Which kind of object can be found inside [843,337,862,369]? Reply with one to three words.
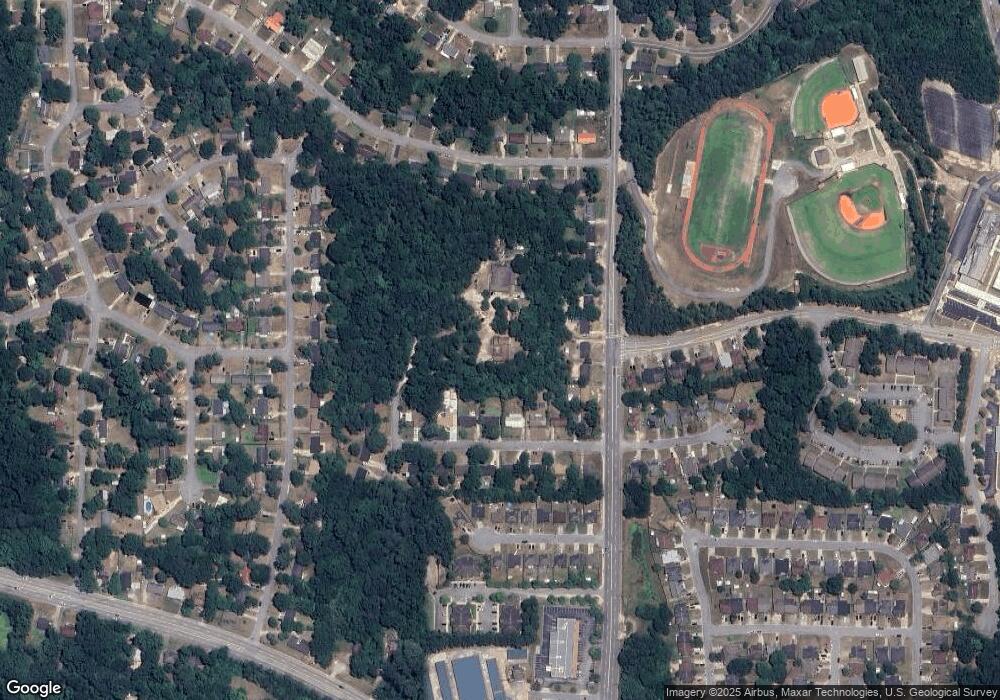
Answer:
building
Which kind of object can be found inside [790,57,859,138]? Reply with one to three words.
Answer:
baseball field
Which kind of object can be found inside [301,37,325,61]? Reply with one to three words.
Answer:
house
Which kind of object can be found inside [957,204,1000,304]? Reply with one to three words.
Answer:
building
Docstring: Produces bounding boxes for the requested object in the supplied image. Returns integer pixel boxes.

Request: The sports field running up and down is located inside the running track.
[687,108,765,264]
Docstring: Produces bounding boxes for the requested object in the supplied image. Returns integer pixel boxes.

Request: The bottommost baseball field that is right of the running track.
[786,163,907,286]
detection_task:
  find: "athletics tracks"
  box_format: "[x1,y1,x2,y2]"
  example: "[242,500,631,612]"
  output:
[680,101,771,274]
